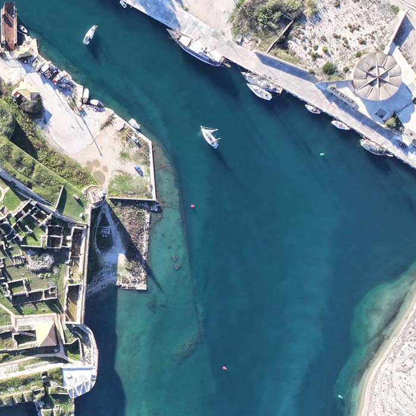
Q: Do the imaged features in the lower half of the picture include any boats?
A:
No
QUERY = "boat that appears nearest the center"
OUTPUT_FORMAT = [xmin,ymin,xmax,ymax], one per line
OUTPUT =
[200,126,220,151]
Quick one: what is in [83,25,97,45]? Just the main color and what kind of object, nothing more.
white boat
